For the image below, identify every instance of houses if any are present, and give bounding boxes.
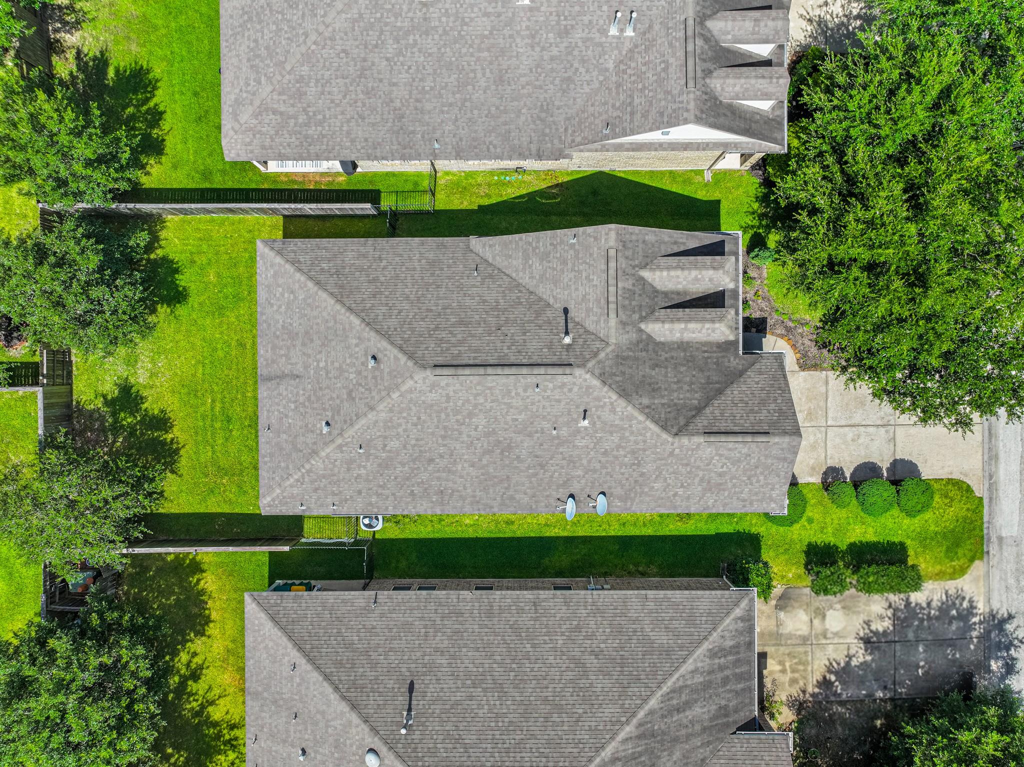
[243,572,798,767]
[218,0,790,176]
[256,224,804,516]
